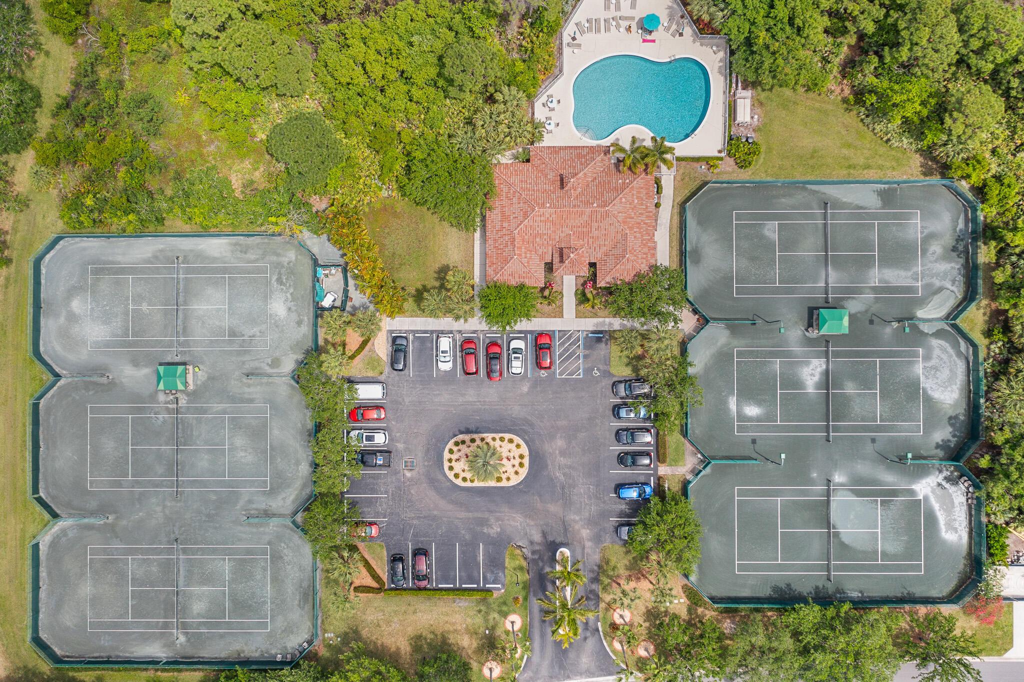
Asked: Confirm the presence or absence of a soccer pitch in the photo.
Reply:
No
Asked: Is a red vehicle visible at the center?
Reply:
Yes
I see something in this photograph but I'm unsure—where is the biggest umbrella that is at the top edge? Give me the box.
[642,10,661,28]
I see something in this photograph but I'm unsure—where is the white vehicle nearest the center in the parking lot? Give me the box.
[508,339,525,376]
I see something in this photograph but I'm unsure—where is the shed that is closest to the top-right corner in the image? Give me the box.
[736,67,753,127]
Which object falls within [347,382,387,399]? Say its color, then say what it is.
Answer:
white vehicle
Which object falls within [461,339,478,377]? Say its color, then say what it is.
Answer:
red car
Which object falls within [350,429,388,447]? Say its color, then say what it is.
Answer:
white car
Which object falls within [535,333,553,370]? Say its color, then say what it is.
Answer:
red car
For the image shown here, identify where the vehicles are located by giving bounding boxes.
[535,333,553,370]
[486,342,503,381]
[436,335,453,371]
[347,522,381,539]
[412,548,430,588]
[612,380,651,398]
[615,428,653,446]
[615,483,653,501]
[390,553,407,588]
[347,382,387,399]
[508,339,525,376]
[390,335,408,371]
[612,405,647,421]
[350,405,386,422]
[352,450,396,469]
[617,451,653,469]
[350,429,388,447]
[461,339,478,377]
